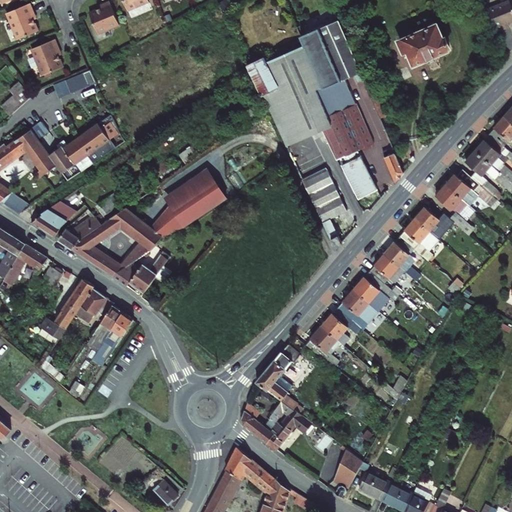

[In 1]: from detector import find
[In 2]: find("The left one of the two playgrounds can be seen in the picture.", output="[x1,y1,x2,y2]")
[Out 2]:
[12,364,62,415]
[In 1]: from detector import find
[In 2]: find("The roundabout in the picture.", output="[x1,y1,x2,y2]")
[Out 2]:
[174,376,240,442]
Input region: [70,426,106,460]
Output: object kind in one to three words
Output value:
playground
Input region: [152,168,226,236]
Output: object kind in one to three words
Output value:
hangar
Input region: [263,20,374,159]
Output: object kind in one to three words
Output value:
building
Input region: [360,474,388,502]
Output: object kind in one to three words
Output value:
house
